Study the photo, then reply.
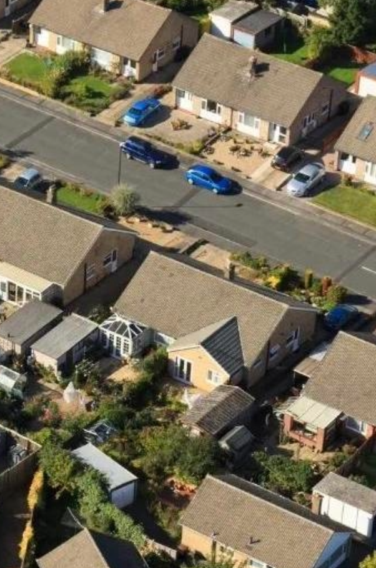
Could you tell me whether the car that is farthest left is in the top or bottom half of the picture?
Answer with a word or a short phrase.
top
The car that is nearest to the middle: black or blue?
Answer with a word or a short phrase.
blue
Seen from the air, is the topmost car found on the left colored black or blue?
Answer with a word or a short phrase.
blue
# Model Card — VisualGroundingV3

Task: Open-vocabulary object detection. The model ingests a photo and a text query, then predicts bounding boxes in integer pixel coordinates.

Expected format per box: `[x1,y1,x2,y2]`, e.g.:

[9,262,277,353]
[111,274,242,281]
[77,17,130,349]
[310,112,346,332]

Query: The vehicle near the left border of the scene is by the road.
[14,164,47,186]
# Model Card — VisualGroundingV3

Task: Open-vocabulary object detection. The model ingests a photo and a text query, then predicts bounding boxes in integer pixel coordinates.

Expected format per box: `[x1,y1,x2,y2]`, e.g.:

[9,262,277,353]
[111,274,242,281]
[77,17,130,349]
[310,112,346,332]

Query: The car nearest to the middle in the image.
[184,167,235,197]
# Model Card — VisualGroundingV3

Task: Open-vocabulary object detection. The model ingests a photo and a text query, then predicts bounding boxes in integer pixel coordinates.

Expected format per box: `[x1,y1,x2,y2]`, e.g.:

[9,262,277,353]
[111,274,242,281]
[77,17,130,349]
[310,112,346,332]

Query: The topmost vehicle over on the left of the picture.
[123,95,162,124]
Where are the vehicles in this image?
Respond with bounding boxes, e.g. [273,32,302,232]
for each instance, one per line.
[123,95,162,124]
[267,139,307,170]
[14,164,47,186]
[285,162,327,193]
[321,297,365,331]
[121,139,170,170]
[184,167,235,197]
